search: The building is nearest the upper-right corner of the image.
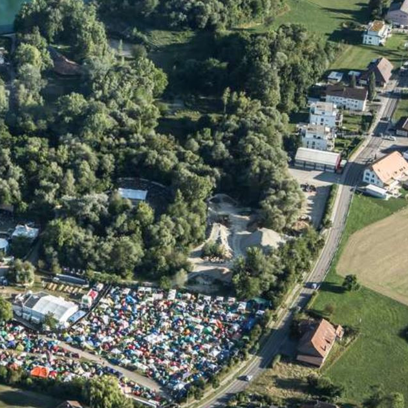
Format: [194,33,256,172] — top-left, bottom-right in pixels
[380,0,408,29]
